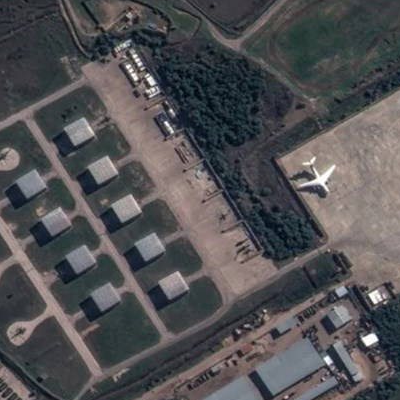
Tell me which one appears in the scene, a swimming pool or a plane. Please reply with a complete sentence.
The image shows a plane.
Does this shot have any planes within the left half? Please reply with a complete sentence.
No, the scene shows no plane within the left half.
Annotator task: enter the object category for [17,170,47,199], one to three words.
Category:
hangar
